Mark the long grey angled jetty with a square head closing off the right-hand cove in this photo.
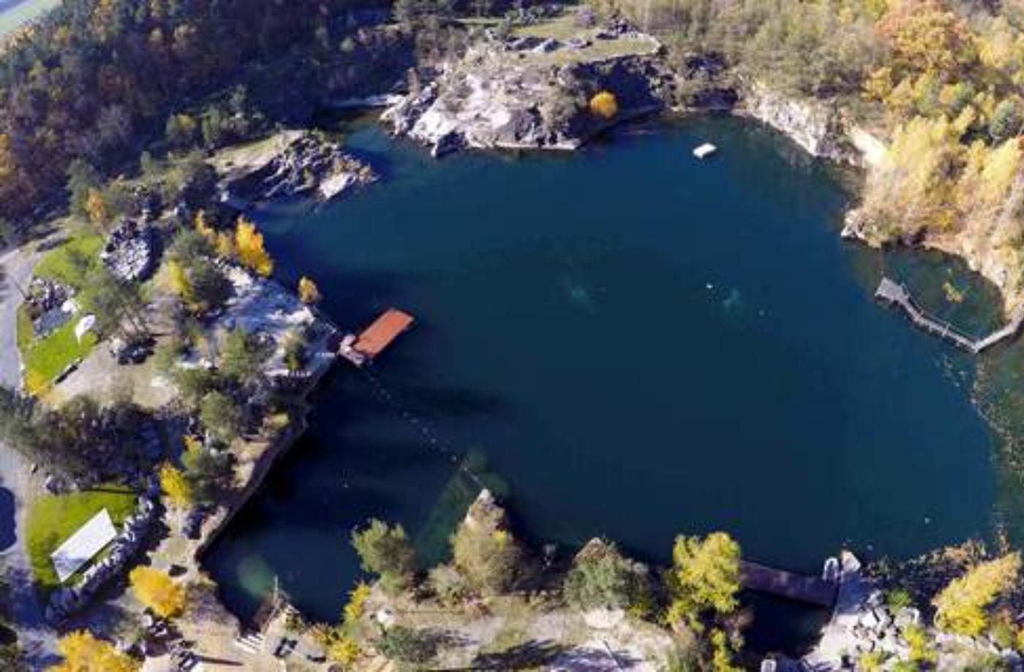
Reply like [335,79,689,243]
[874,277,1024,359]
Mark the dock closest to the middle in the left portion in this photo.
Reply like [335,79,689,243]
[340,333,365,369]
